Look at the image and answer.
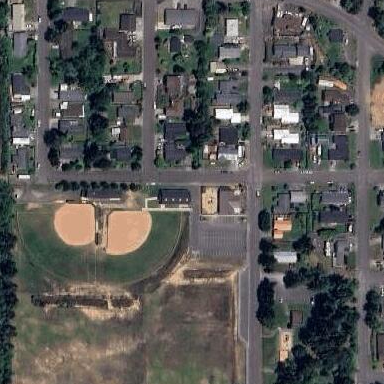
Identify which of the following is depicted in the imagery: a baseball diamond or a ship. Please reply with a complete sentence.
This aerial view contains a baseball diamond.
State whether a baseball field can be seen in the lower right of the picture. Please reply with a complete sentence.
No, there's no baseball field to be seen in the lower right of the picture.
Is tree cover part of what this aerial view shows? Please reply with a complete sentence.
Yes, there's tree cover in this view.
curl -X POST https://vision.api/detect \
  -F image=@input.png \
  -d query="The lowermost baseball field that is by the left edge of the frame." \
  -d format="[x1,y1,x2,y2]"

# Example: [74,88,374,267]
[18,201,96,286]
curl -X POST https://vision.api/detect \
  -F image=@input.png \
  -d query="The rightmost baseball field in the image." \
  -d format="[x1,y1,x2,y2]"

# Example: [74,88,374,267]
[88,209,187,286]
